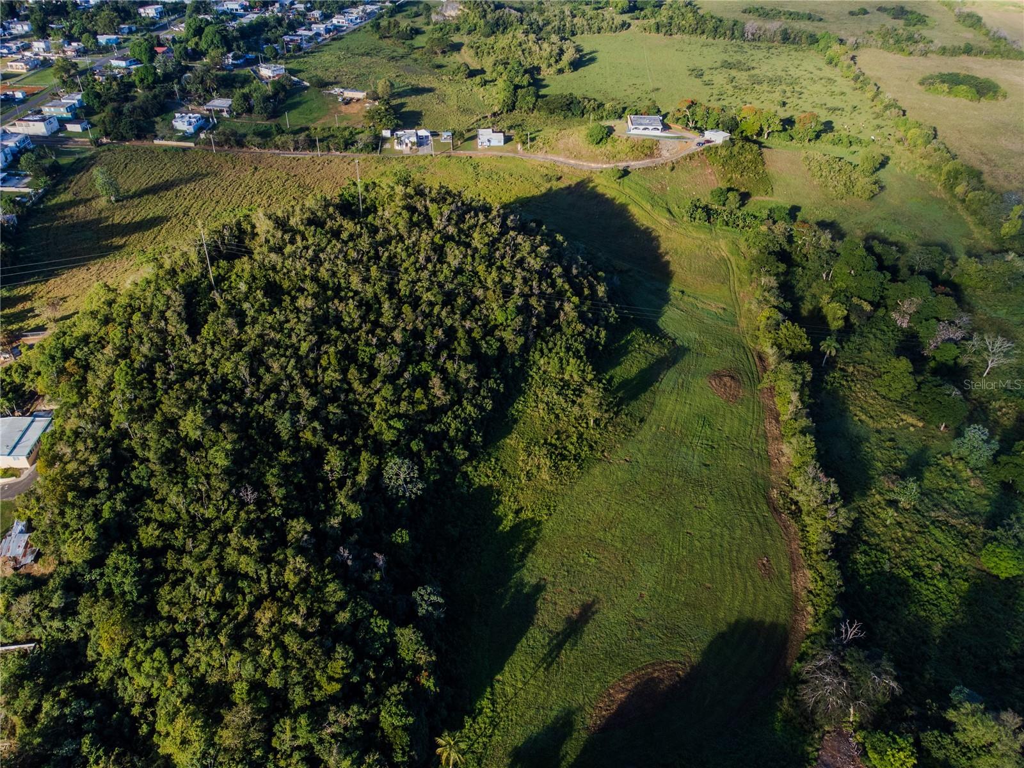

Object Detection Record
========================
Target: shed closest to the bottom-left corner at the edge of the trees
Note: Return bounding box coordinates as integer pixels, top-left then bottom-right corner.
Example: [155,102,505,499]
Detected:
[0,516,34,569]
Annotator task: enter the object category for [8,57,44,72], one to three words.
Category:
house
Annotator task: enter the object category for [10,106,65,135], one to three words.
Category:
building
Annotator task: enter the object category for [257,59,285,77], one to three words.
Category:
house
